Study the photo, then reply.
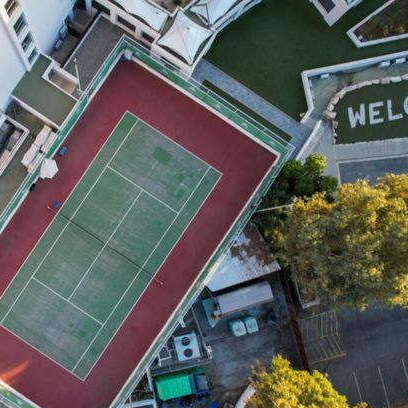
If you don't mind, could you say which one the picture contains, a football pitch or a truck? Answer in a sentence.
Visible in the photo is a truck.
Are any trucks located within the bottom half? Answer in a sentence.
Yes, I can see a truck within the bottom half.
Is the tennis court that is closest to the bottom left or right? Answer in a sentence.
The tennis court that is closest to the bottom appears in the left half of the scene.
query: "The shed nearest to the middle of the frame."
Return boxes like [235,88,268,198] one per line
[204,222,279,290]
